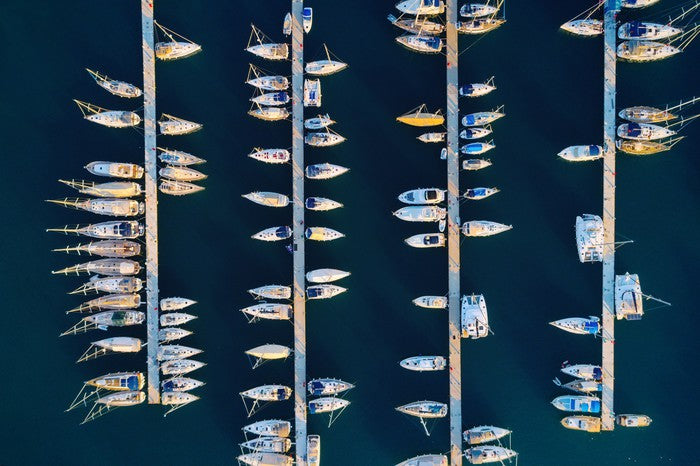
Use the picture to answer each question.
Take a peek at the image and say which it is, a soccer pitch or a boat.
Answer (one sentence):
I can see a boat in this picture.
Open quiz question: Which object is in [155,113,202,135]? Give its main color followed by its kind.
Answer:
white boat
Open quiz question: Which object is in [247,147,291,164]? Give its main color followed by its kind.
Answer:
white boat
